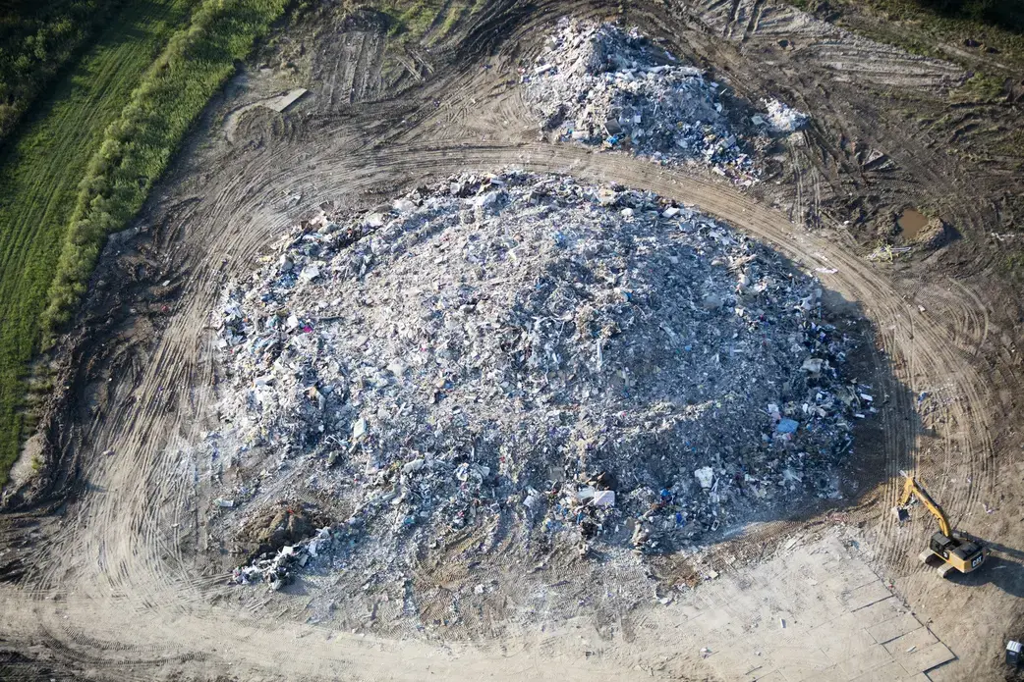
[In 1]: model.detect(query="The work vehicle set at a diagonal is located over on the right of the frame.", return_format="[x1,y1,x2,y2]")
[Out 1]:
[881,472,987,572]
